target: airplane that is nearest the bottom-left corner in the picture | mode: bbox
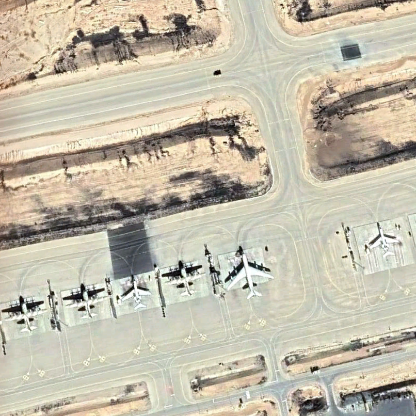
[5,303,48,333]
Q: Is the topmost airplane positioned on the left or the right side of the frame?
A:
right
